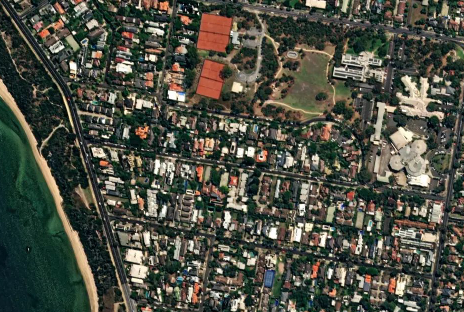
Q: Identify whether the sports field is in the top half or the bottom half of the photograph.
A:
top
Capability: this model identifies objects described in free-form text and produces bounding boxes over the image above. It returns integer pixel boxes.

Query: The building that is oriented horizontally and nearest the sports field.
[332,66,366,80]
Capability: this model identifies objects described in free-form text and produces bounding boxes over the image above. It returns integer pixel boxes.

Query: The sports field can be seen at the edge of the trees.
[282,52,333,112]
